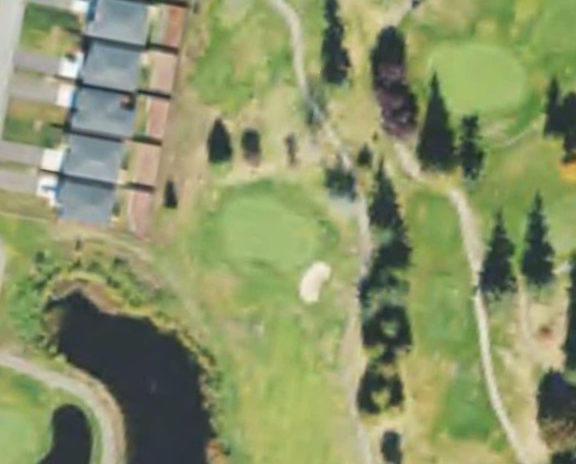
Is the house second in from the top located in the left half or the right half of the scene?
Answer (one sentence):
It is on the left.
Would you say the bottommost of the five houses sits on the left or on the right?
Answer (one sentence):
You can find the bottommost of the five houses on the left side of the picture.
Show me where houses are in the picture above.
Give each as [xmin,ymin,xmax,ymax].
[57,179,114,224]
[88,0,152,45]
[71,87,137,140]
[83,40,145,92]
[61,134,122,184]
